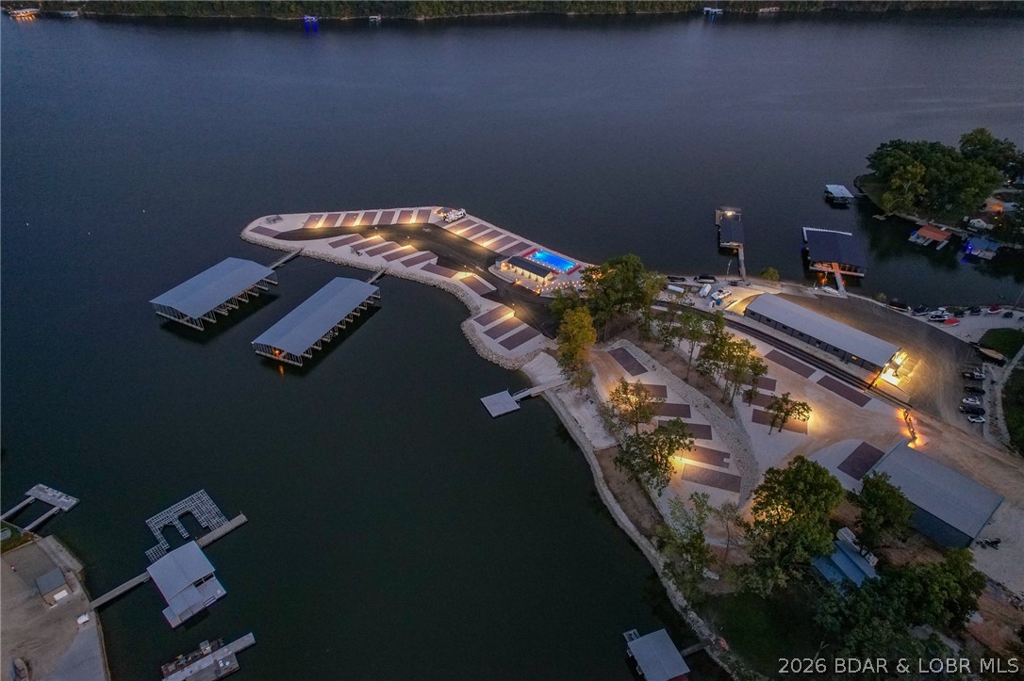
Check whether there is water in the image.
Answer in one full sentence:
Yes, some water is visible.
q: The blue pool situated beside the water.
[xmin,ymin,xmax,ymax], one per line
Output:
[529,247,579,271]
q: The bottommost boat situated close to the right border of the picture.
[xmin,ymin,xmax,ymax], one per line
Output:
[984,345,1010,364]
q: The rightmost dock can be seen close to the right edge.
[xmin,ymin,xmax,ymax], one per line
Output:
[966,237,1000,266]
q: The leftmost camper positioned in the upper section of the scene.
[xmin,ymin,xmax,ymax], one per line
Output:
[446,206,467,222]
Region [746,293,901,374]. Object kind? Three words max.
building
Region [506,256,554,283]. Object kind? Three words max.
building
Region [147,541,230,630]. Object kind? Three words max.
pier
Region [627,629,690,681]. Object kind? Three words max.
pier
